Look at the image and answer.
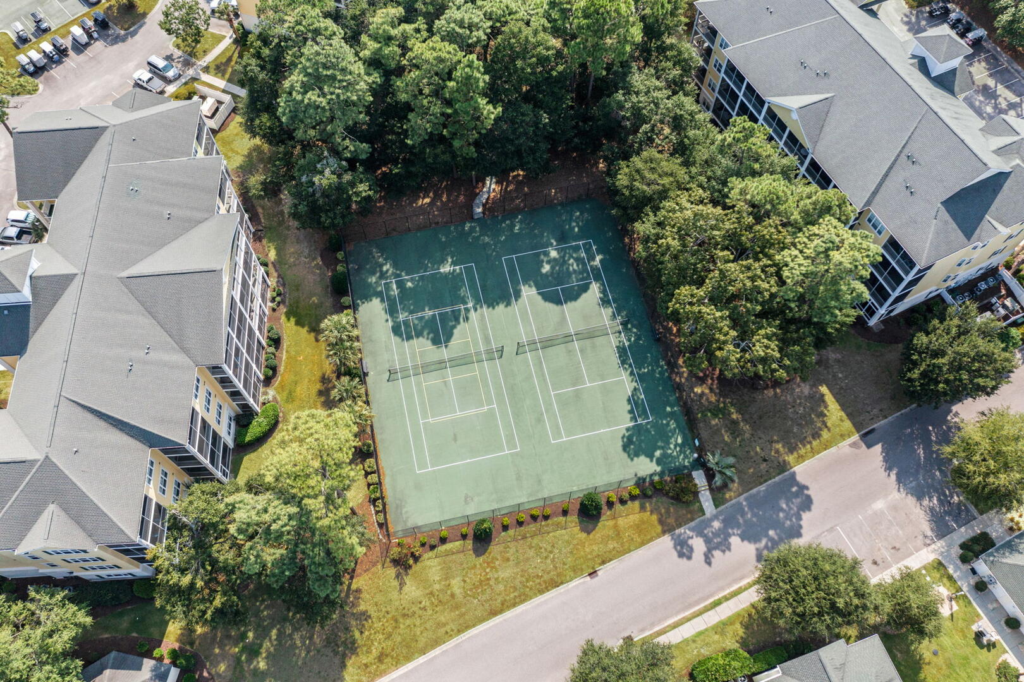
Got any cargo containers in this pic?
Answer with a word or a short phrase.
No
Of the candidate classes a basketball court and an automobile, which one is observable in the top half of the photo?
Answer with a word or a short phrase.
automobile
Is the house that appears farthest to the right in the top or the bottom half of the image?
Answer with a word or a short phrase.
bottom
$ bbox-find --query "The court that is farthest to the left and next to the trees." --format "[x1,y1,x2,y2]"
[346,220,550,537]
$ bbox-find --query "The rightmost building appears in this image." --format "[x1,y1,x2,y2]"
[965,532,1024,645]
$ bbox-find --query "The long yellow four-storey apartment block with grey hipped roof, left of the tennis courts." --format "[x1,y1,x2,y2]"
[0,88,266,577]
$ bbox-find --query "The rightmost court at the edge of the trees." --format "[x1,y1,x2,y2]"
[478,196,695,501]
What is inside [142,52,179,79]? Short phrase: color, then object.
white car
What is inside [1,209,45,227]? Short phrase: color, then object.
white car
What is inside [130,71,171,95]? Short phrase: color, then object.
white truck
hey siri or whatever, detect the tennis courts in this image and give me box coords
[346,220,550,537]
[478,196,695,501]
